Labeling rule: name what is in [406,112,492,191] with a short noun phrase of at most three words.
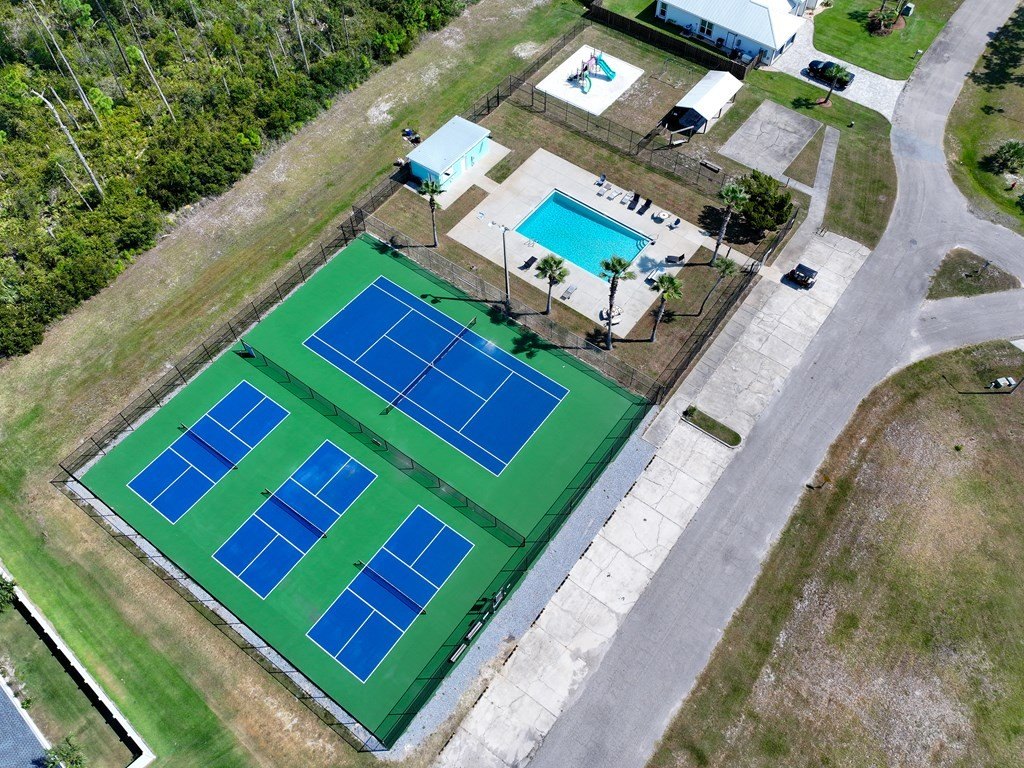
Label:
building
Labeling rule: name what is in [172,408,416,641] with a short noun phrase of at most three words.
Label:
sports court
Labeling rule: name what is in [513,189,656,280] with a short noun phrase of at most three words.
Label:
swimming pool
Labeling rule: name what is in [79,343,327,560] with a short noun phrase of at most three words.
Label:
sports court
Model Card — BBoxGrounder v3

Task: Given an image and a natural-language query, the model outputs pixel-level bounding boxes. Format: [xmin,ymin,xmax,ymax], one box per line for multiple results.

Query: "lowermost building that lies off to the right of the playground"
[673,70,744,137]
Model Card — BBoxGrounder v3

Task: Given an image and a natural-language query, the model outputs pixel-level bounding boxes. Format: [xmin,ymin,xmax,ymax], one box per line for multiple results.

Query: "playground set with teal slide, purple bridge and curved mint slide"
[570,46,622,95]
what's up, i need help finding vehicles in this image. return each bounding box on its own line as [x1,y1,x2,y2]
[805,58,852,86]
[788,262,817,289]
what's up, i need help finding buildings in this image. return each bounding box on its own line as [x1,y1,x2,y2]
[655,0,834,65]
[673,70,744,137]
[406,112,492,191]
[0,672,65,768]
